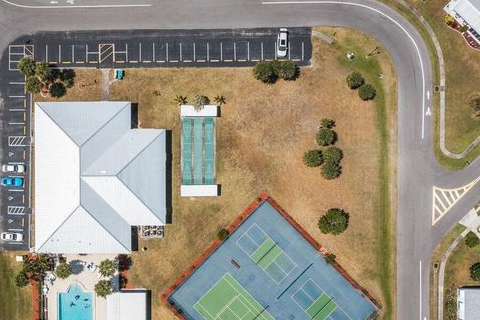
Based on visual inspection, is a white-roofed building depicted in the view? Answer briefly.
Yes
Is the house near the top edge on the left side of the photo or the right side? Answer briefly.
right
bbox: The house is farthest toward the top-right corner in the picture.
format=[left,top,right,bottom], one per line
[449,0,480,40]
